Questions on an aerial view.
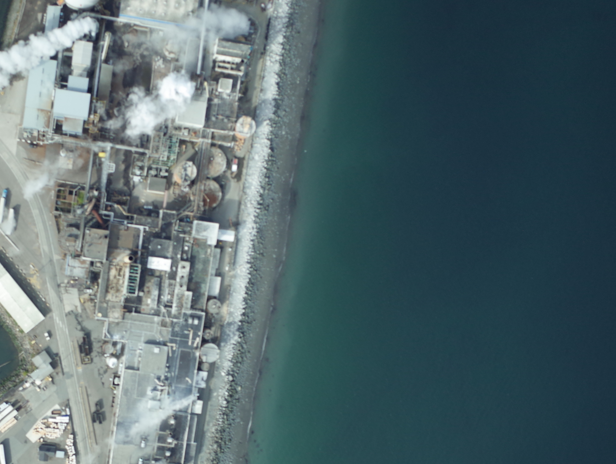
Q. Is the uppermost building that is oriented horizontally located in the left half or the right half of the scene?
left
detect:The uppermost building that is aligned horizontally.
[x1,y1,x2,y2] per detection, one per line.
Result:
[119,0,199,33]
